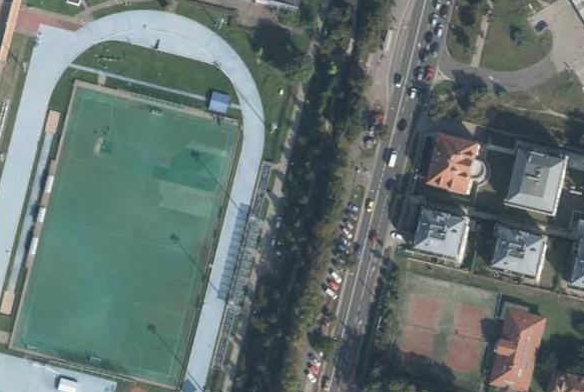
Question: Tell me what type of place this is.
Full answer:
The area seen from above is a sports ground.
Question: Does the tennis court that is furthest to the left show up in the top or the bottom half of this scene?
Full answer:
The bottom half of the photo is where the tennis court that is furthest to the left is.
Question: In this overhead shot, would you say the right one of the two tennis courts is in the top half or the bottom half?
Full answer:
It is in the bottom half that the right one of the two tennis courts appears.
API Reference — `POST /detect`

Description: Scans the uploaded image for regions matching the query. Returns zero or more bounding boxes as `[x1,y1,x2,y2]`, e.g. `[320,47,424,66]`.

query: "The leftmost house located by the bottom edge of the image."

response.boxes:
[489,302,546,392]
